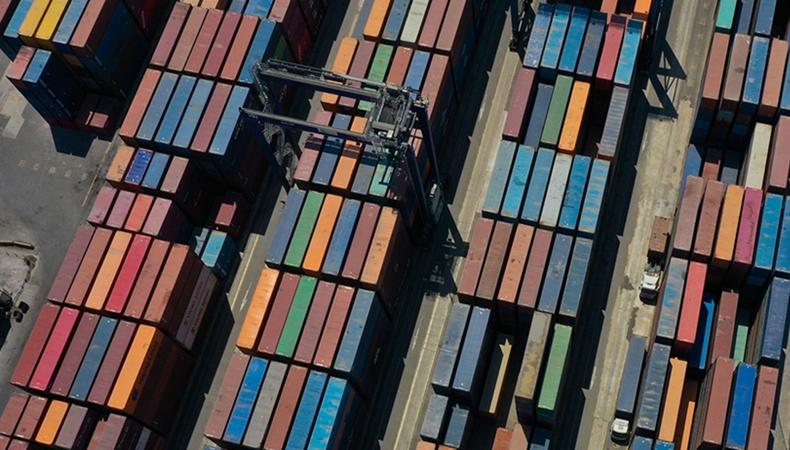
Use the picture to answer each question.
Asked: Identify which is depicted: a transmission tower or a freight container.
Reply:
freight container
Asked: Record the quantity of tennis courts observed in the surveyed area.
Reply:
0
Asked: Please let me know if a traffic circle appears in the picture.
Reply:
No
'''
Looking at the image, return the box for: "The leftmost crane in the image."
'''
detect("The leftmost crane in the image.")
[241,57,449,237]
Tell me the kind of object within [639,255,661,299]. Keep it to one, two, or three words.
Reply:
truck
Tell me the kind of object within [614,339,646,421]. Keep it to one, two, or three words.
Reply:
shipping container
